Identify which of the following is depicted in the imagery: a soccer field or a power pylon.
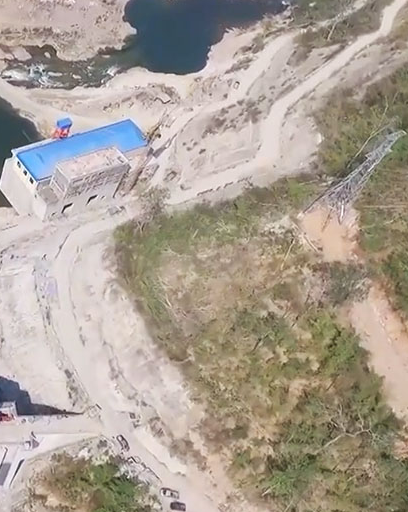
power pylon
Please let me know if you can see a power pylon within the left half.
No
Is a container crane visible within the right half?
No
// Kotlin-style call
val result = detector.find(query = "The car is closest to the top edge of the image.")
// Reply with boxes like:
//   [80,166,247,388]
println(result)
[116,433,129,451]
